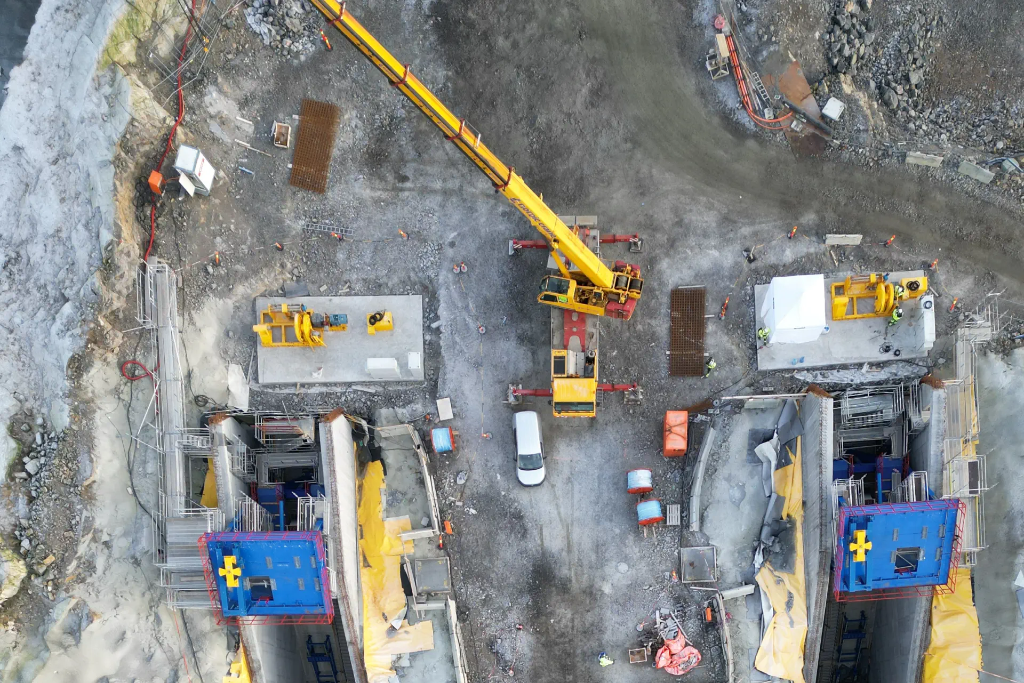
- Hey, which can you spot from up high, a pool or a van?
van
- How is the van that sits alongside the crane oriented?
from top to bottom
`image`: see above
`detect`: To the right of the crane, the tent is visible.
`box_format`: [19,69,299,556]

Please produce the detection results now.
[760,274,826,345]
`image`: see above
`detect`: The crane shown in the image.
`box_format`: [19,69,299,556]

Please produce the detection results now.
[304,0,647,418]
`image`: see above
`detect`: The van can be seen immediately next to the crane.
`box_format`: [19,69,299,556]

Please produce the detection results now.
[512,407,550,490]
